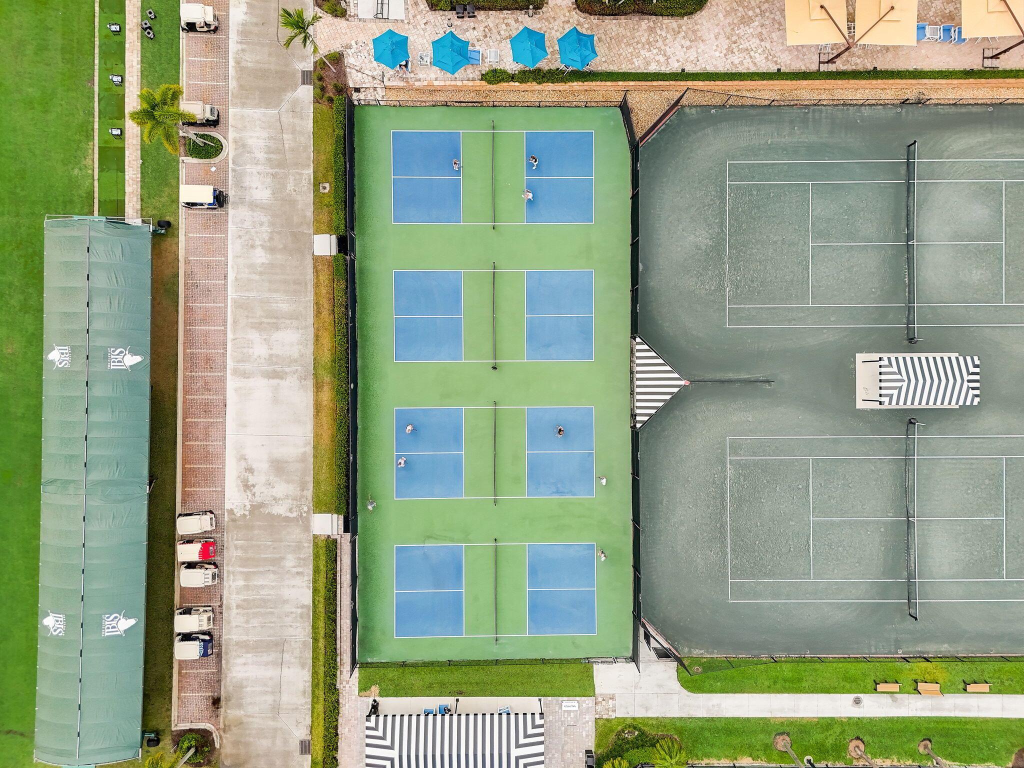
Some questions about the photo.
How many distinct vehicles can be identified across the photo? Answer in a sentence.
The picture shows 8 vehicles.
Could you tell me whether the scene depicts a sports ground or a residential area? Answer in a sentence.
It's a sports ground.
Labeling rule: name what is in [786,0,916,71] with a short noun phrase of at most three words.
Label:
umbrella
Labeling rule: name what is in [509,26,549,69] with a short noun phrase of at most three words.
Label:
umbrella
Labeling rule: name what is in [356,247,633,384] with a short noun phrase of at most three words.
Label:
sports court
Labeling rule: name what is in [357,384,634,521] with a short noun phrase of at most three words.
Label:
sports court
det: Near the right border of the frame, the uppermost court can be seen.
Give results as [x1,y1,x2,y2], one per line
[636,104,1024,383]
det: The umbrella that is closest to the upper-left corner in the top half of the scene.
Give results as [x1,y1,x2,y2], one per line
[373,28,410,70]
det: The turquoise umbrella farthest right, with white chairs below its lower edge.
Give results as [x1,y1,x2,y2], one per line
[557,26,598,71]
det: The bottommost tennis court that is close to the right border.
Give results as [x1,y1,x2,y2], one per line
[636,383,1024,656]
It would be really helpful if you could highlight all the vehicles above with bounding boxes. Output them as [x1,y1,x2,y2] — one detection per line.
[177,536,216,560]
[174,606,214,633]
[179,562,219,587]
[181,184,229,209]
[175,632,214,660]
[181,102,218,130]
[176,507,217,532]
[179,2,217,33]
